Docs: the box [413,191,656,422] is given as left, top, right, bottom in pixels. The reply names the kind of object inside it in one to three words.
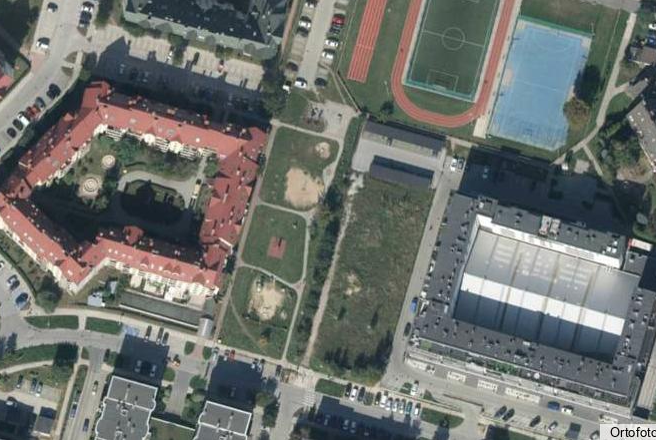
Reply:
building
